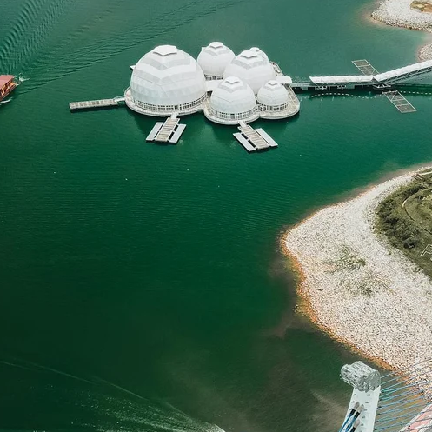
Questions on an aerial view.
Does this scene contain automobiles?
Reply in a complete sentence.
No, the scene contains no automobile.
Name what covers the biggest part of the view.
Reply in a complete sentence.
The largest share of the image is taken up by water.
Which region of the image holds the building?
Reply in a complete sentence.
The building sits in the top section of the image.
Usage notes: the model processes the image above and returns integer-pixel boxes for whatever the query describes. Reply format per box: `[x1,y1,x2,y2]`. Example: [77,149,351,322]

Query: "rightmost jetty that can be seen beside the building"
[233,118,278,153]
